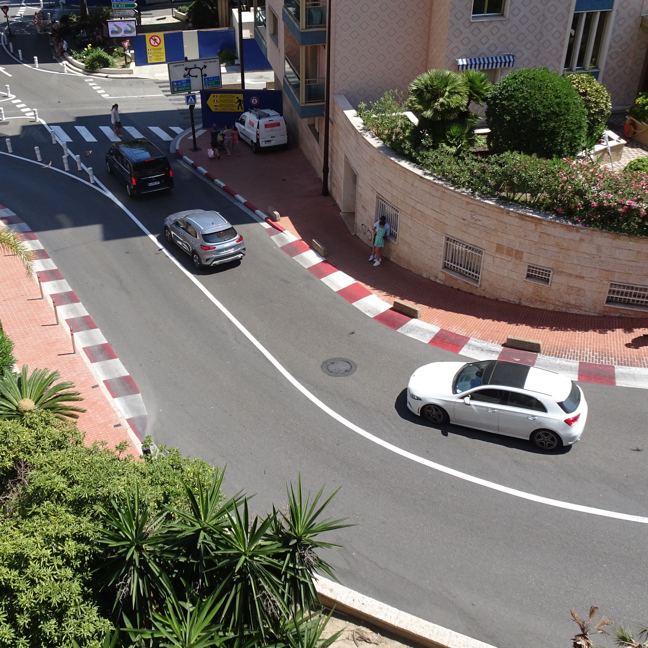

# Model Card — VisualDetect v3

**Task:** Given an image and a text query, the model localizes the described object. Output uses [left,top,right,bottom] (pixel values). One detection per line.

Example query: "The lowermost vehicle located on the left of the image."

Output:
[159,206,246,270]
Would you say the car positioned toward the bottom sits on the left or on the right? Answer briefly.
right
